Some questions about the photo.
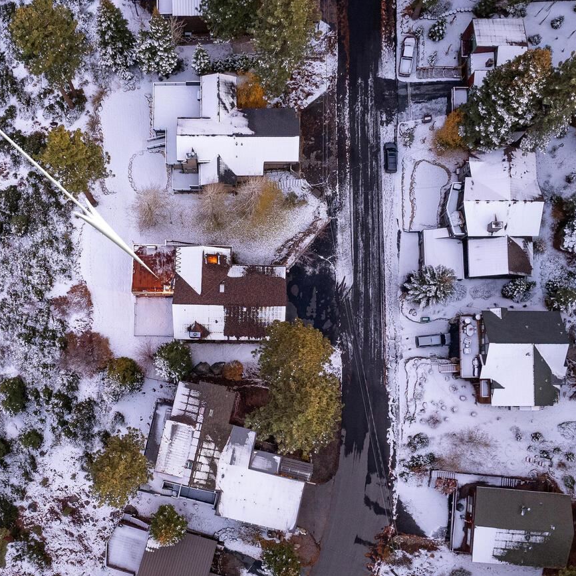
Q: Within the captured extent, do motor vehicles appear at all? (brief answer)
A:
Yes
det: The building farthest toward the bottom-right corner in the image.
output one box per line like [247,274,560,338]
[430,471,574,569]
